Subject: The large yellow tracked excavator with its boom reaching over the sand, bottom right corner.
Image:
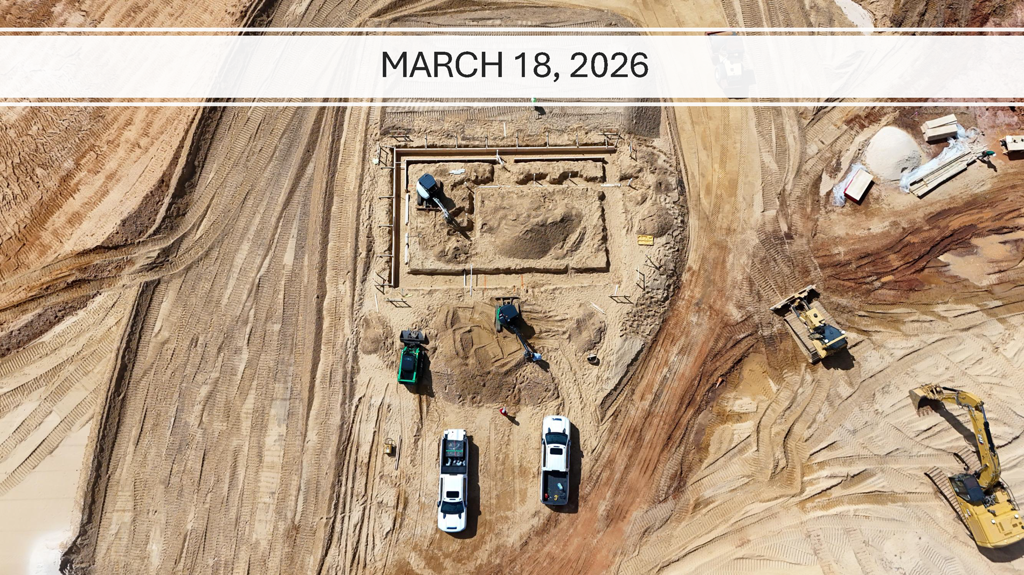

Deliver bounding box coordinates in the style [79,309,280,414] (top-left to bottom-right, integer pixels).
[907,380,1024,548]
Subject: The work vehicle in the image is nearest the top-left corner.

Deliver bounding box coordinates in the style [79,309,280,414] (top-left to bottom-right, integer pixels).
[413,170,454,227]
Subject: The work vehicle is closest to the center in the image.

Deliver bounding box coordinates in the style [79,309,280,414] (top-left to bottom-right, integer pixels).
[493,297,532,358]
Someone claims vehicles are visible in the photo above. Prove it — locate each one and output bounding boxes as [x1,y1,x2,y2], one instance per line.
[907,380,1024,548]
[433,430,469,533]
[540,417,574,513]
[493,297,532,358]
[396,335,428,387]
[770,284,850,363]
[413,170,454,227]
